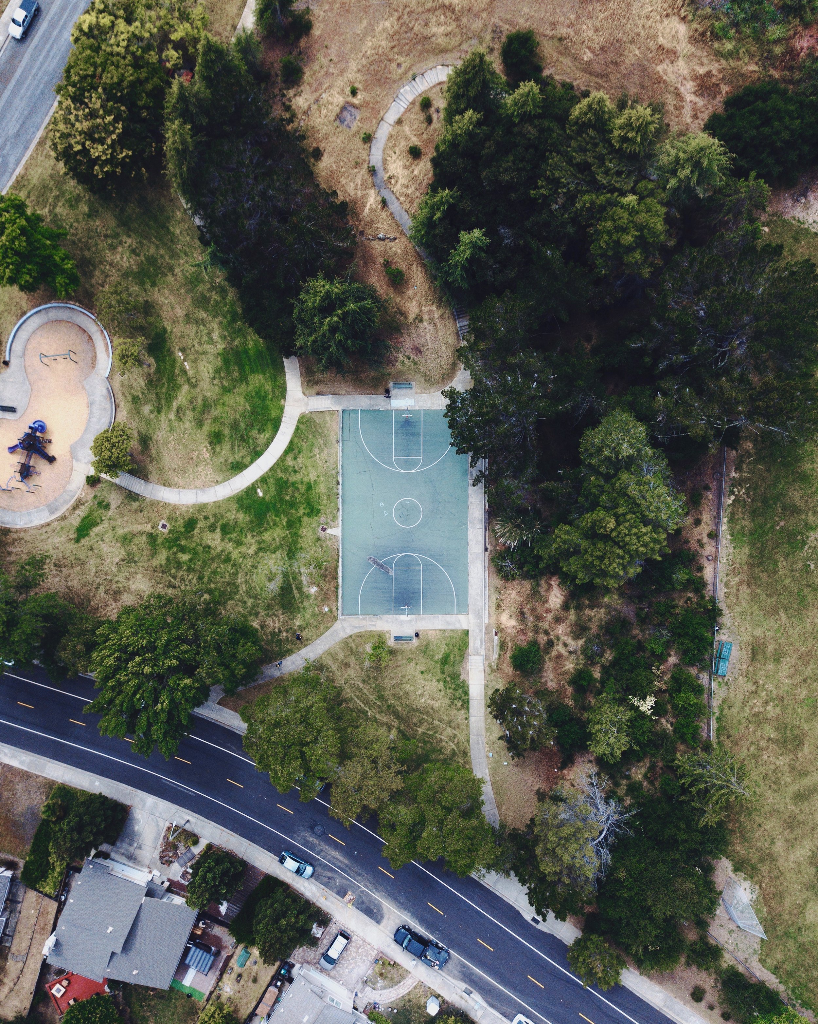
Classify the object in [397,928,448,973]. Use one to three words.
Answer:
truck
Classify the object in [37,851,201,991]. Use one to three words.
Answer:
house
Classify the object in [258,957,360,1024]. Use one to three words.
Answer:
house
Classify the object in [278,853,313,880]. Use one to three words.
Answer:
car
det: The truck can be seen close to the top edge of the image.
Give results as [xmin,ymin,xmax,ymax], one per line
[2,0,37,37]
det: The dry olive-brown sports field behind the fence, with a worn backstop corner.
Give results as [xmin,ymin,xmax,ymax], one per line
[718,224,818,1009]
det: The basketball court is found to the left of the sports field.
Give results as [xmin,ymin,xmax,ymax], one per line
[342,410,469,615]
